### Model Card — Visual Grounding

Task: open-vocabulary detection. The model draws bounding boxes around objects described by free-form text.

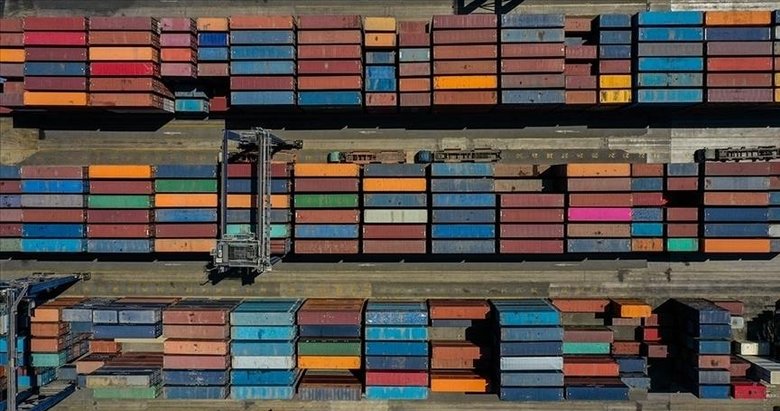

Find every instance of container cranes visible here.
[211,128,304,273]
[0,275,88,411]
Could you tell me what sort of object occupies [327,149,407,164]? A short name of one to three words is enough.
vehicle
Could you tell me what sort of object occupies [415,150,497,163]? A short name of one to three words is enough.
vehicle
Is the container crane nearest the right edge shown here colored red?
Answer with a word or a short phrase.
No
